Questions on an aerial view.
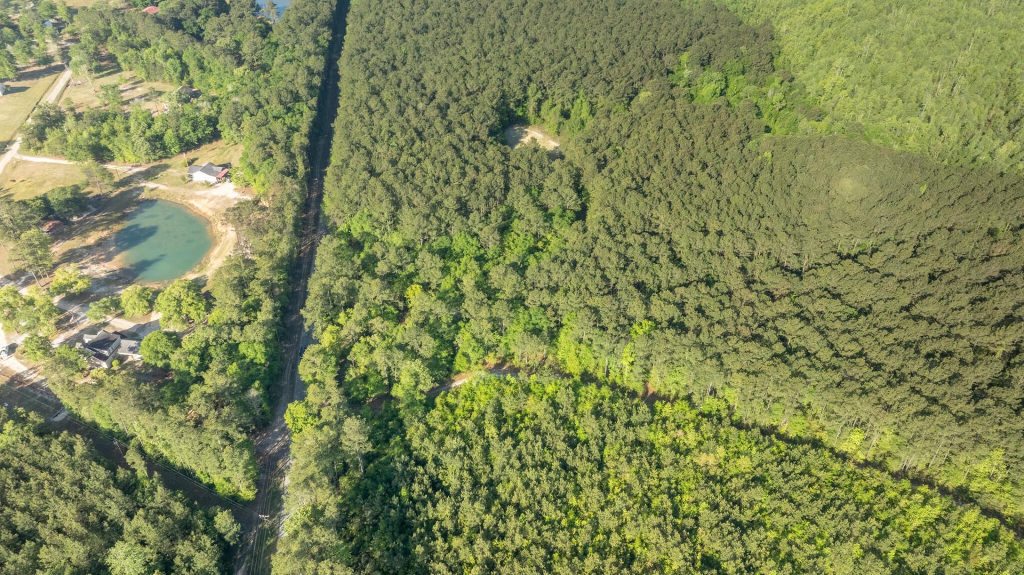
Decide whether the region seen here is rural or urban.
rural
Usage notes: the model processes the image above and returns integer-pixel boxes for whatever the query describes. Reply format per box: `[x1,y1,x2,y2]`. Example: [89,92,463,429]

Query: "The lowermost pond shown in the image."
[115,199,215,284]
